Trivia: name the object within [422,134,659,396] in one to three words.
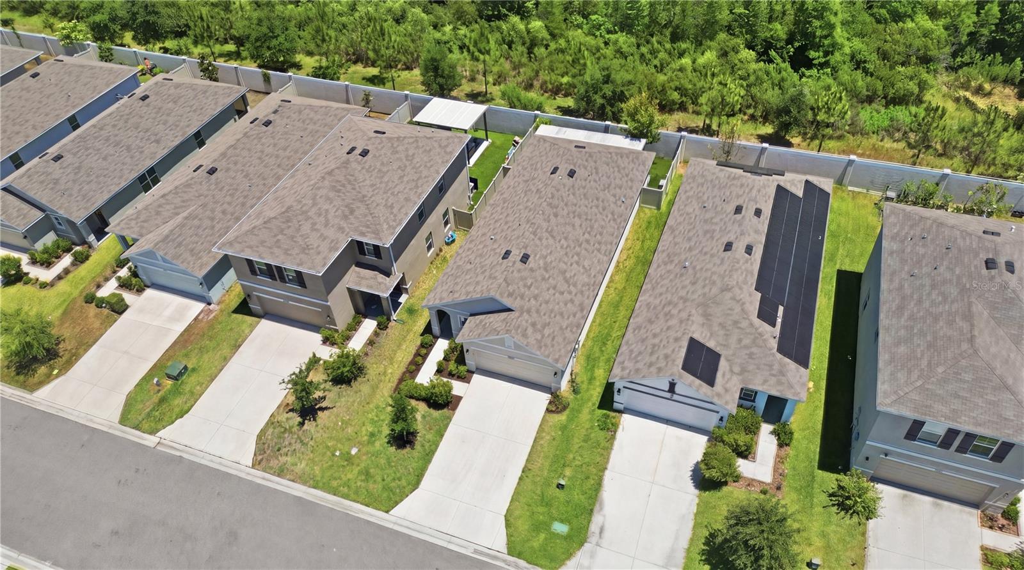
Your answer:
house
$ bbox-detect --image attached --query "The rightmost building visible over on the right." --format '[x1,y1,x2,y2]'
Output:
[859,202,1024,512]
